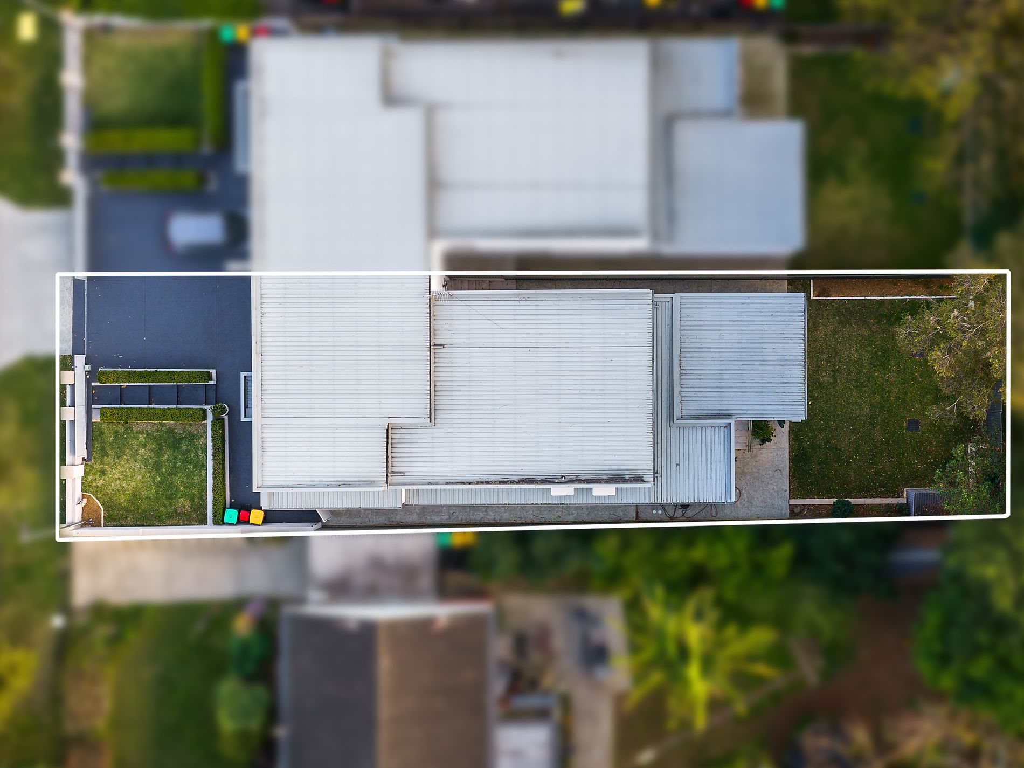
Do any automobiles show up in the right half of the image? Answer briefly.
No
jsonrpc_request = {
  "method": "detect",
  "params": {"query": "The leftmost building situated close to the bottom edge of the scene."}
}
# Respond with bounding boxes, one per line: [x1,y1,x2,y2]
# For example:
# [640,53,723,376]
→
[281,581,490,768]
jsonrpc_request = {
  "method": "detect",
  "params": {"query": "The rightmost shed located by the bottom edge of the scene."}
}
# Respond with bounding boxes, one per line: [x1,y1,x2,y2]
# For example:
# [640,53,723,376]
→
[497,703,557,768]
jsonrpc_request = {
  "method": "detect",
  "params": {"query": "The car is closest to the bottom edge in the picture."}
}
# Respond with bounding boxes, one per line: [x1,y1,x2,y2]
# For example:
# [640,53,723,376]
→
[171,206,252,259]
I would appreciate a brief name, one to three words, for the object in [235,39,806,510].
house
